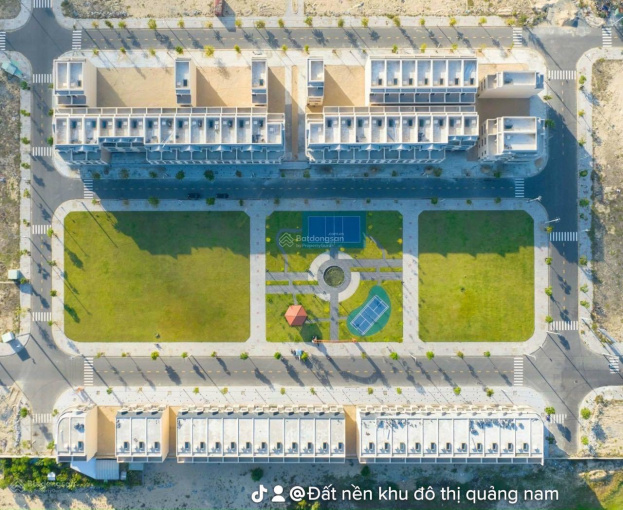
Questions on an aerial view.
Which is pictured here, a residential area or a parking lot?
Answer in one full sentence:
This looks like a residential area.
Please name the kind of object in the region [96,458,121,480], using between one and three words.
shed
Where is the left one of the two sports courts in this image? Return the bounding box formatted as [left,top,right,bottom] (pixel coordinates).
[302,211,366,248]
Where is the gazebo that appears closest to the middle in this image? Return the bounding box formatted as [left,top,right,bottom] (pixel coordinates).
[286,306,308,325]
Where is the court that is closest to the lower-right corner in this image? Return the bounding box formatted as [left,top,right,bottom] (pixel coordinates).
[347,285,391,336]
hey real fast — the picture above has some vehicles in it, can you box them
[215,192,228,198]
[187,192,200,198]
